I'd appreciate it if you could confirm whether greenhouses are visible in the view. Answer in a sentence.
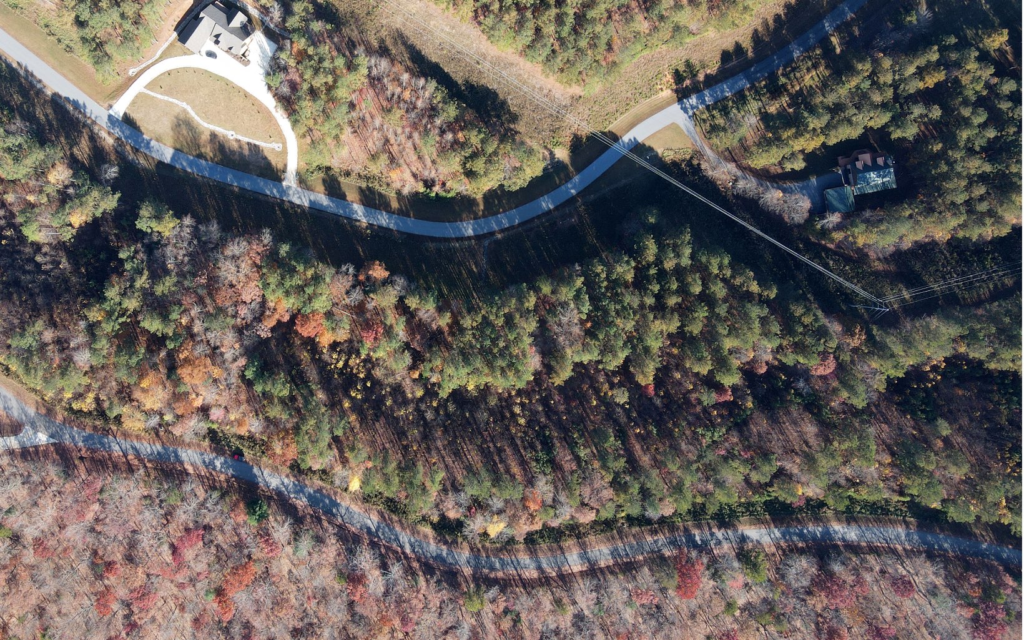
No, the frame has no greenhouse in it.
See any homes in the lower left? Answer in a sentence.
No, I see no home in the lower left.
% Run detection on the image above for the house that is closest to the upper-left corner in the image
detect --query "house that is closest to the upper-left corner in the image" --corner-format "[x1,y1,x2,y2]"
[178,2,254,56]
